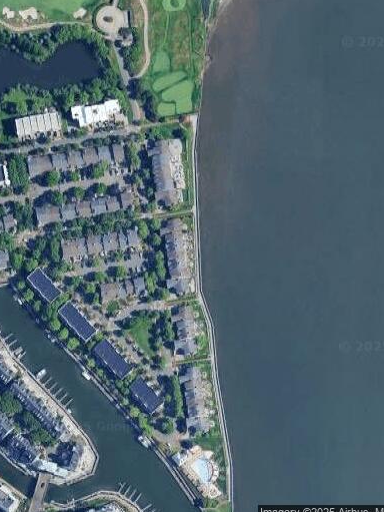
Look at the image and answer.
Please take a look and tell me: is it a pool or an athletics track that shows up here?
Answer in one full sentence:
There is a pool in the scene.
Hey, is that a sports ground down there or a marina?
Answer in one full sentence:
It's a marina.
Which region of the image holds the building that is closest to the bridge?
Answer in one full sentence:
The building that is closest to the bridge appears toward the bottom left of the photo.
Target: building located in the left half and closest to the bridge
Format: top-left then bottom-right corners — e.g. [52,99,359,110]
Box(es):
[31,457,68,477]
